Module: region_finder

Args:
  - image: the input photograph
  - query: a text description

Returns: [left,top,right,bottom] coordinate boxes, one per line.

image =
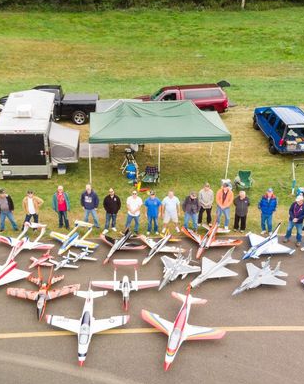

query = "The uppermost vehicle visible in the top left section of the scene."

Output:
[33,80,102,125]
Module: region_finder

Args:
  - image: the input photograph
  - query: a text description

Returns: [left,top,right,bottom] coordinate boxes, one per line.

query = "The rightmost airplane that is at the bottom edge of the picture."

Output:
[142,281,229,370]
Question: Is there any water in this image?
No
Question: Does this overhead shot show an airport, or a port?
airport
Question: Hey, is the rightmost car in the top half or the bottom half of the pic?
top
